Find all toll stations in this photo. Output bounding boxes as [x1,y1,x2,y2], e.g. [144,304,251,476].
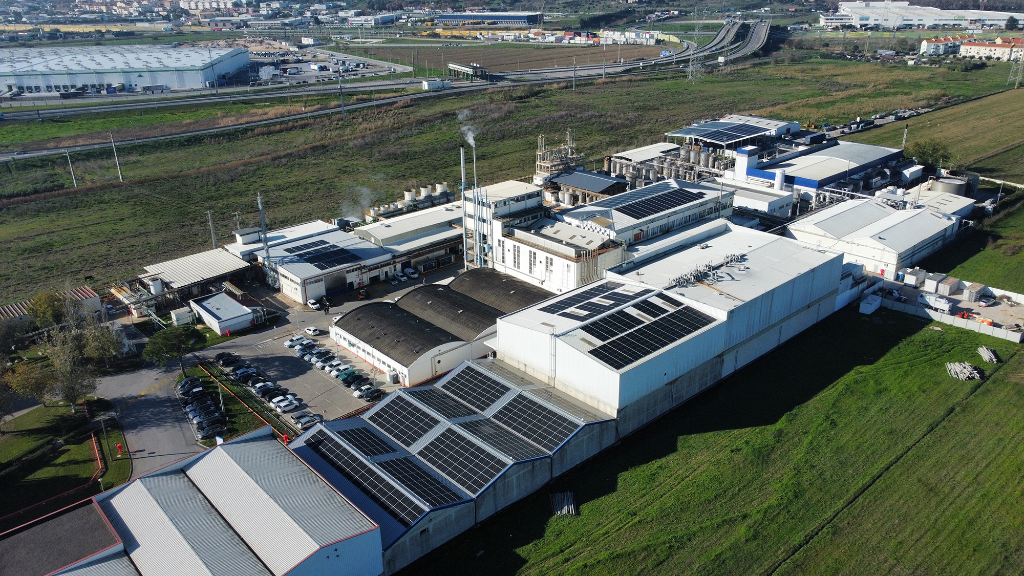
[447,62,490,81]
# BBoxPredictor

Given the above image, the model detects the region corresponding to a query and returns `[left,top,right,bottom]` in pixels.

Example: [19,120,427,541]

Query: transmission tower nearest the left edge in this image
[532,3,547,47]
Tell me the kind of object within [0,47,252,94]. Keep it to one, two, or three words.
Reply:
building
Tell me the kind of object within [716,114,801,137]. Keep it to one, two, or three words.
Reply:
building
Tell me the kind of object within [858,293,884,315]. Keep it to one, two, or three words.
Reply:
shed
